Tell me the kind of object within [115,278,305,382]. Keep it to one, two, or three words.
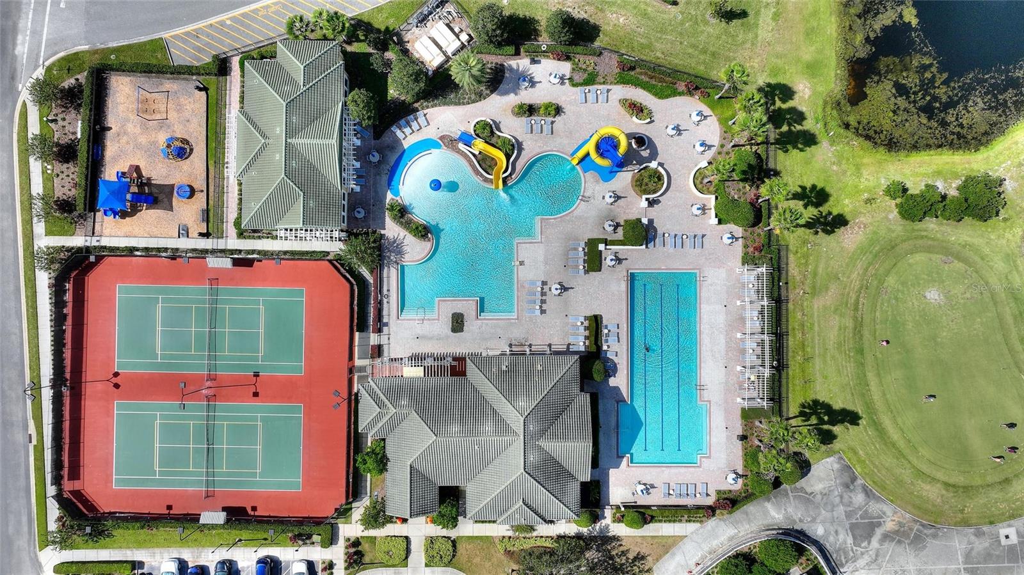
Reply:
tennis court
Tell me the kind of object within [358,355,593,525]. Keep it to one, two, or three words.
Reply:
building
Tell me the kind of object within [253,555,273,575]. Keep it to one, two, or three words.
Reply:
car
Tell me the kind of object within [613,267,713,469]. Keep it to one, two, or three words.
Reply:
swimming pool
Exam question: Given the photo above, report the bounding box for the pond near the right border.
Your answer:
[836,0,1024,147]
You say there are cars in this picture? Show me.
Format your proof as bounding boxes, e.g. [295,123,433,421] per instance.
[291,558,310,575]
[160,557,181,575]
[213,558,233,575]
[188,564,205,575]
[253,555,273,575]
